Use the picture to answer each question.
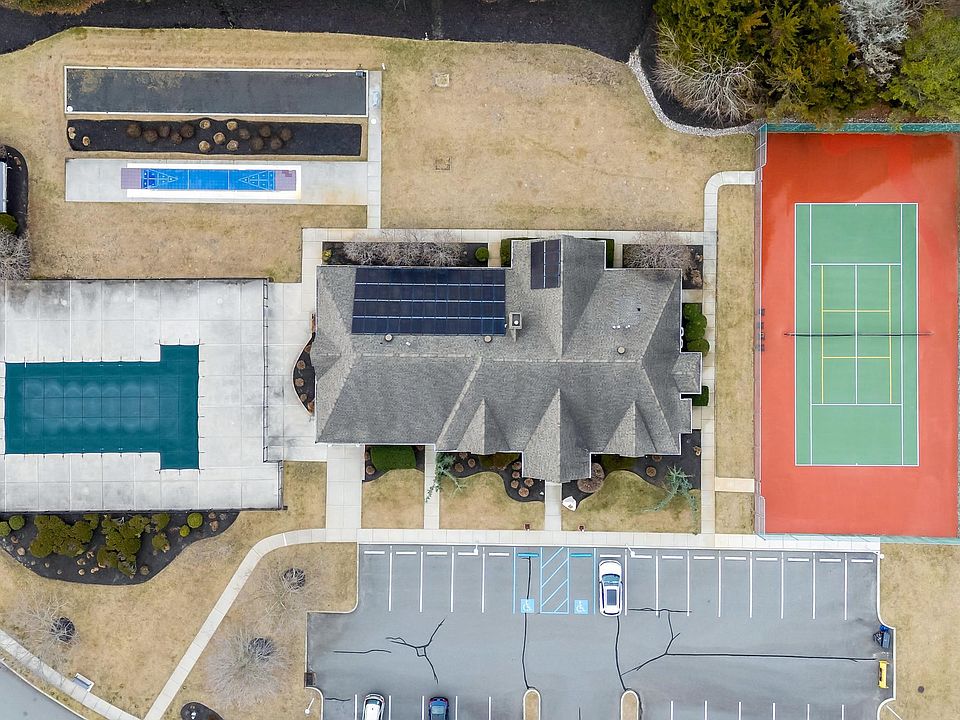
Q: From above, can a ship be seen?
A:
No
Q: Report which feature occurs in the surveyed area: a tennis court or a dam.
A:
tennis court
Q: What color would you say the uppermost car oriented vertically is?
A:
white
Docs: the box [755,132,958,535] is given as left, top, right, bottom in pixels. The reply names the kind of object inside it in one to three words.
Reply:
tennis court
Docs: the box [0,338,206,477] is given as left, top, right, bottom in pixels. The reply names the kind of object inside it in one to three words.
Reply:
swimming pool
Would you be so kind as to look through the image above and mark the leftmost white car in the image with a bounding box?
[362,689,385,720]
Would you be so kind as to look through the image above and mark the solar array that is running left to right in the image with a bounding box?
[351,268,506,335]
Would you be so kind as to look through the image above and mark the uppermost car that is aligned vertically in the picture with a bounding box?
[598,560,623,615]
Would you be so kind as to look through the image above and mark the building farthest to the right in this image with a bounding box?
[311,233,703,484]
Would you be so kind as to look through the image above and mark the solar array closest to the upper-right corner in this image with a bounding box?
[532,239,561,290]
